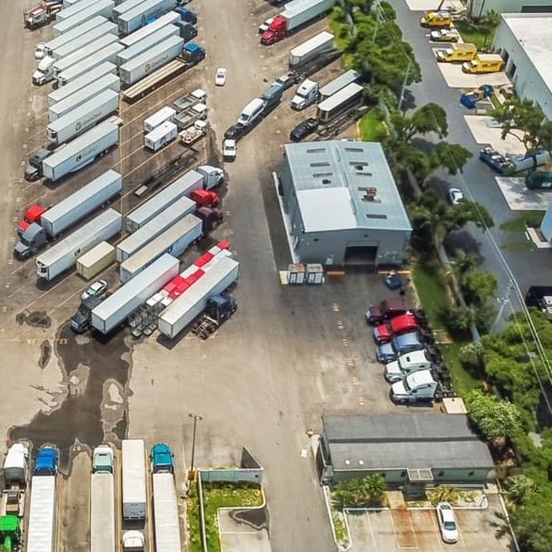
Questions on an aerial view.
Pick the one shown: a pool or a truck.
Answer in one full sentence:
The one in the frame is a truck.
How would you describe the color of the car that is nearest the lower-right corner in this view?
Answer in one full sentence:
The color of the car that is nearest the lower-right corner is white.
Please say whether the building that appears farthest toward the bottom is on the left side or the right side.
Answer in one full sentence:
It is on the right.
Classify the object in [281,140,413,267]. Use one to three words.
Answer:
building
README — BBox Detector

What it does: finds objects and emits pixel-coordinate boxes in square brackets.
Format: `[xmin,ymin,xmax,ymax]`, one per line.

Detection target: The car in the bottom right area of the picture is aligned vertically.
[437,503,458,544]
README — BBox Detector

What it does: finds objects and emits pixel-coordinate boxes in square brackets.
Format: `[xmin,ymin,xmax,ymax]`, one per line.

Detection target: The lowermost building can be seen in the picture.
[322,413,491,504]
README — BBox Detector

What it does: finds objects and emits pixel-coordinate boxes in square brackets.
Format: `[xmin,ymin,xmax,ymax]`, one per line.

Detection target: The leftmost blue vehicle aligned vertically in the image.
[34,437,60,499]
